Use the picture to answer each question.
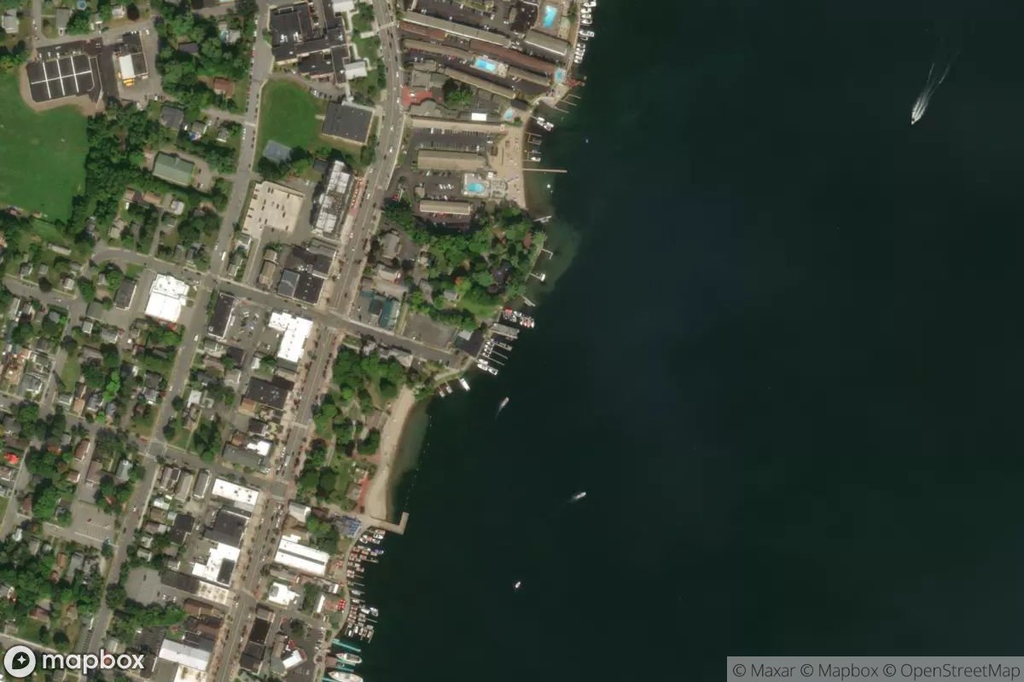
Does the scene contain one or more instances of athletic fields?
Yes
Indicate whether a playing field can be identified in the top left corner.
Yes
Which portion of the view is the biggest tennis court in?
top left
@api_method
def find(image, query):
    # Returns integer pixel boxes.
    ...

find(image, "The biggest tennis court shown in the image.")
[27,54,94,101]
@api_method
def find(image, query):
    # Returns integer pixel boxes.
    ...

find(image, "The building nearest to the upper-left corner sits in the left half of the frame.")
[2,7,20,35]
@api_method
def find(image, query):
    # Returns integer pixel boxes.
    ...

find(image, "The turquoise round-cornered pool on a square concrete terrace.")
[464,174,507,197]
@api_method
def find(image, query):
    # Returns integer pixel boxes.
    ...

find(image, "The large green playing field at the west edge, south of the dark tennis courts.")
[0,73,88,223]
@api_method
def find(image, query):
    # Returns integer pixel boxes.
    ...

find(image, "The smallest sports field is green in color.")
[257,78,324,148]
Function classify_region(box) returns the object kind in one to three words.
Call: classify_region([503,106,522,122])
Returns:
swimming pool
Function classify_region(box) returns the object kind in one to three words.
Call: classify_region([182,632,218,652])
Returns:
building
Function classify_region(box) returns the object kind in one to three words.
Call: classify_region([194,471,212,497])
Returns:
house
